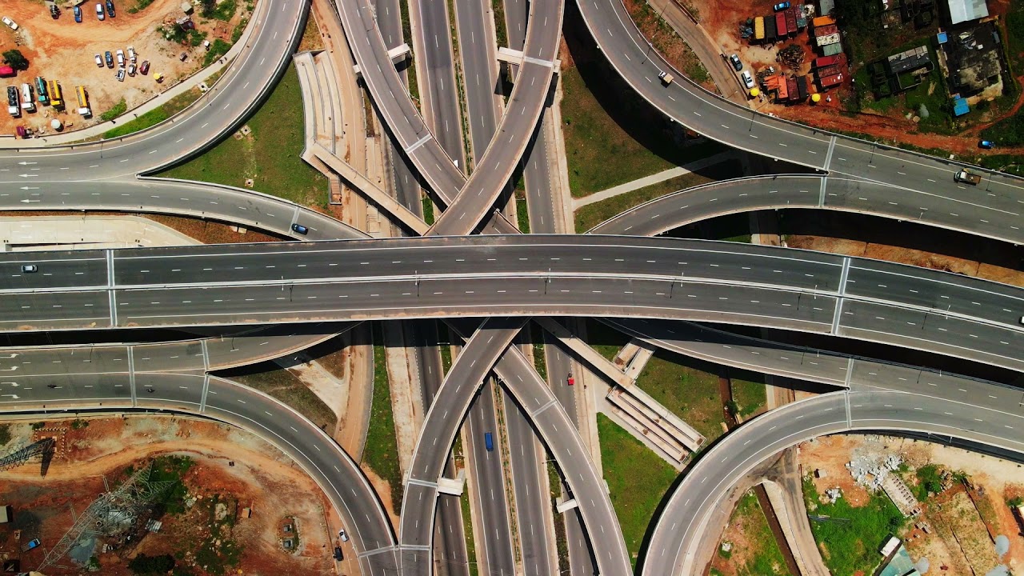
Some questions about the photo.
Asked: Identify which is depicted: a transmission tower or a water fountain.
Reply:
transmission tower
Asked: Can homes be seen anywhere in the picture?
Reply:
Yes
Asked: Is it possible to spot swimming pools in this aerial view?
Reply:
No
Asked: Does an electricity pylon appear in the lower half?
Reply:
Yes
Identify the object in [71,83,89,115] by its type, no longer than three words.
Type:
vehicle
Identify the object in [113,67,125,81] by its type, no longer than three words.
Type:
vehicle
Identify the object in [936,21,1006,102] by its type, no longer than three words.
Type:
building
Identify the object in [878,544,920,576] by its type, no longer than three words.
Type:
house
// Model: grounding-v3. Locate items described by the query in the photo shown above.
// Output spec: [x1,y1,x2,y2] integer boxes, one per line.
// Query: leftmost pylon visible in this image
[0,433,60,471]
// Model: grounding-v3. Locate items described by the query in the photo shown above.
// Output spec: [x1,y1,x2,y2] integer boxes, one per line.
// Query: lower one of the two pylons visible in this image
[27,461,178,575]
